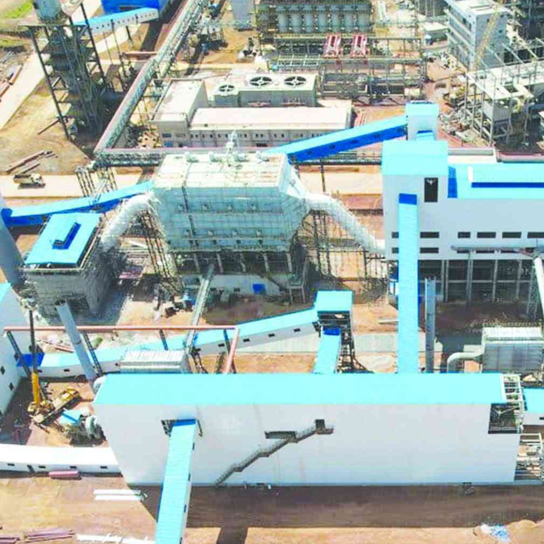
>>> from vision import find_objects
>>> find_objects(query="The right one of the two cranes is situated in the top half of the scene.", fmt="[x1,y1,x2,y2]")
[464,0,503,77]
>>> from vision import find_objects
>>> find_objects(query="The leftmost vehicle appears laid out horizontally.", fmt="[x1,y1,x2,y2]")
[12,177,42,190]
